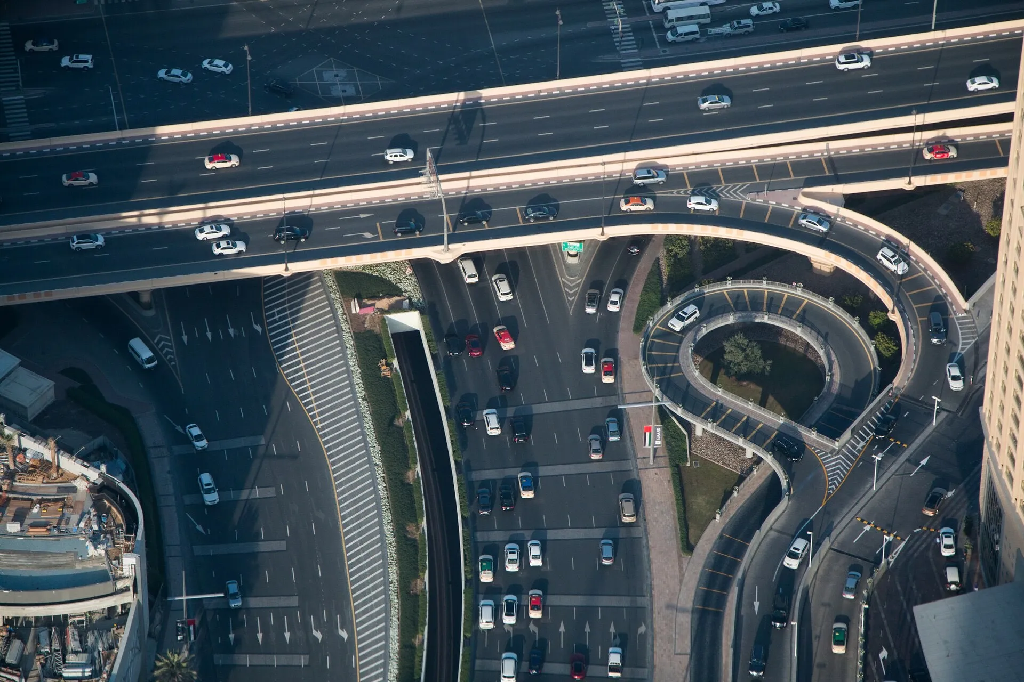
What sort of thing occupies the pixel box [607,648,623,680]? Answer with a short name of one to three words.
vehicle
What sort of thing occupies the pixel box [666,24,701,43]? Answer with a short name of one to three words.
vehicle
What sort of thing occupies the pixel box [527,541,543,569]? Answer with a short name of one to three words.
car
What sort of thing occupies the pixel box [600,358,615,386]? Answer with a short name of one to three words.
car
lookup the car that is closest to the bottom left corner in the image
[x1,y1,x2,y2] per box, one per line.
[225,580,242,610]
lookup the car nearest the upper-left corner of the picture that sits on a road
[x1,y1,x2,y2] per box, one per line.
[25,38,58,53]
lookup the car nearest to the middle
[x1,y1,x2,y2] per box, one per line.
[496,326,512,353]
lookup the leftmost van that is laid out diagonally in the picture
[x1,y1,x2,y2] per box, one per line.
[128,337,157,370]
